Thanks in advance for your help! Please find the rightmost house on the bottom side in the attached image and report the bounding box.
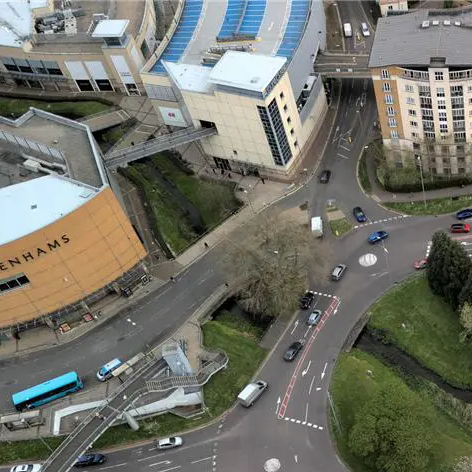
[159,335,200,381]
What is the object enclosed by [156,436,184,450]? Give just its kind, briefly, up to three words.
car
